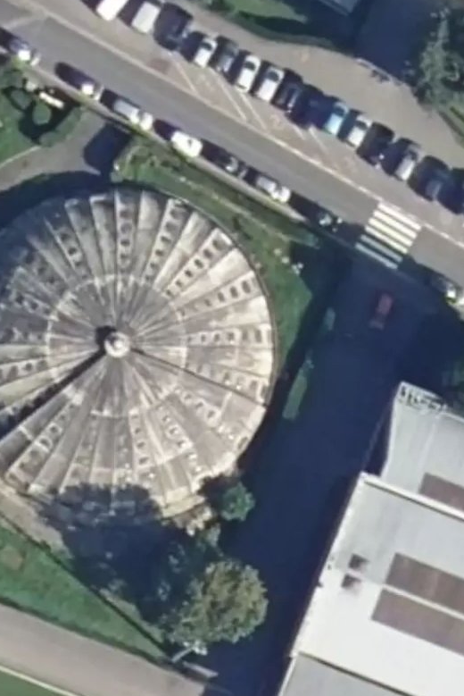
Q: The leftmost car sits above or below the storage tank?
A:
above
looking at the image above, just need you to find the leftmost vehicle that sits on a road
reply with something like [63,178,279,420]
[1,33,41,64]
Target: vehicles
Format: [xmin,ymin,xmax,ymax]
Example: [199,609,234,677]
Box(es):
[191,33,220,70]
[442,171,464,214]
[389,142,417,179]
[415,159,444,200]
[160,7,191,50]
[295,89,327,130]
[1,33,41,64]
[363,125,393,165]
[166,128,206,160]
[233,52,262,93]
[61,65,102,97]
[304,201,343,233]
[251,171,291,203]
[276,76,305,118]
[213,39,240,76]
[94,0,120,23]
[347,115,375,151]
[206,145,247,177]
[131,0,164,38]
[255,63,286,104]
[111,95,152,129]
[322,100,352,136]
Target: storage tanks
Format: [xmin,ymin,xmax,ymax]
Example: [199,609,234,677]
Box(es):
[0,190,280,533]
